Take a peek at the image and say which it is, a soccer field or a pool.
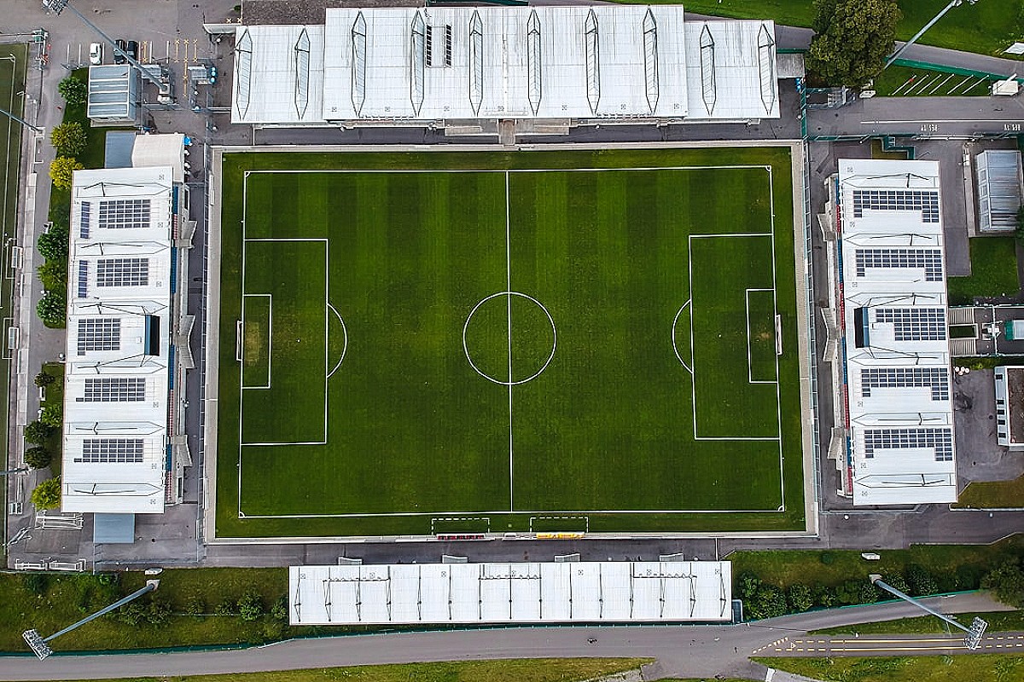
soccer field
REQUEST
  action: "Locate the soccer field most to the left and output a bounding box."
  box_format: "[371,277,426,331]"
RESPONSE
[0,42,28,570]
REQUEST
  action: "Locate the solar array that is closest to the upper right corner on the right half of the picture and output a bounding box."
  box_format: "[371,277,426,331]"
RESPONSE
[853,189,937,220]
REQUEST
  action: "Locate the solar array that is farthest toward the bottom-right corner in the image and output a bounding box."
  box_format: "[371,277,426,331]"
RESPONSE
[865,429,950,461]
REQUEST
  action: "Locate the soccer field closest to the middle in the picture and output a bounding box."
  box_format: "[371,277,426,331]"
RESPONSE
[205,141,816,540]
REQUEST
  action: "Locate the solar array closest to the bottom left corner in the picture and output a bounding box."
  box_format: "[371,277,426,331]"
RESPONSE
[73,438,141,462]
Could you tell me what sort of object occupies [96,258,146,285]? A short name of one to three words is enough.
solar array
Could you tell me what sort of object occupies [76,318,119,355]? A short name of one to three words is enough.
solar array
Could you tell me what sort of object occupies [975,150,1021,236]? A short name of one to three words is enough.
building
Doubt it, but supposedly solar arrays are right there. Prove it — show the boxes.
[876,308,944,340]
[865,429,950,461]
[96,258,146,285]
[79,201,88,236]
[75,378,143,401]
[76,318,119,355]
[853,189,937,220]
[77,260,86,296]
[861,367,946,399]
[73,438,141,462]
[856,248,940,280]
[98,199,148,226]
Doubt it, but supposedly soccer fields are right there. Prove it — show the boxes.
[205,141,816,540]
[0,42,28,570]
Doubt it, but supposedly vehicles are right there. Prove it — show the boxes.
[113,41,126,64]
[89,42,103,63]
[127,41,139,65]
